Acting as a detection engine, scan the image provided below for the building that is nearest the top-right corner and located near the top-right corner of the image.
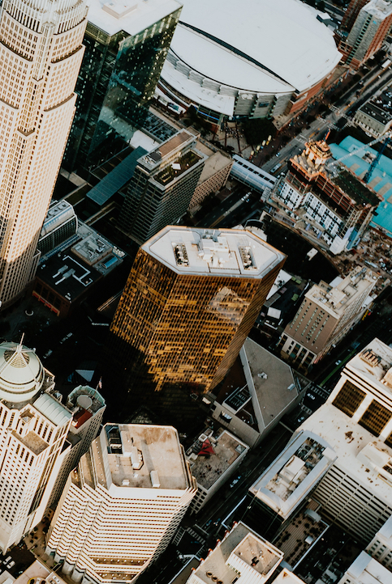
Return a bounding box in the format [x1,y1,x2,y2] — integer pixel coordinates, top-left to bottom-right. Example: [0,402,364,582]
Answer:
[332,0,392,92]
